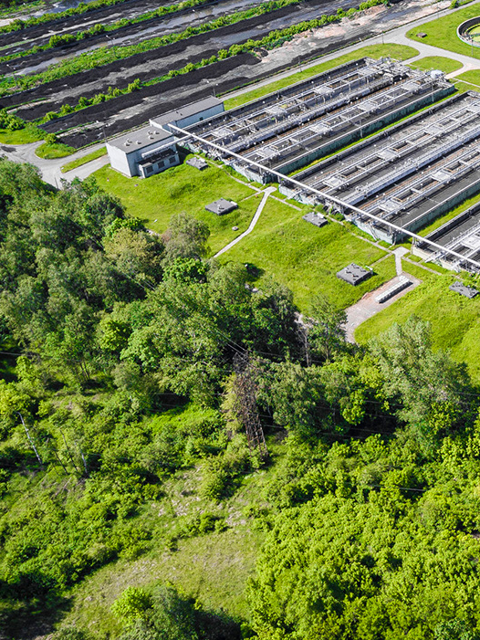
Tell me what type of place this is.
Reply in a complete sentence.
It's an industrial area.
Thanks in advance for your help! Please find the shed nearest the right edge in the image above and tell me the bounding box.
[148,97,224,138]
